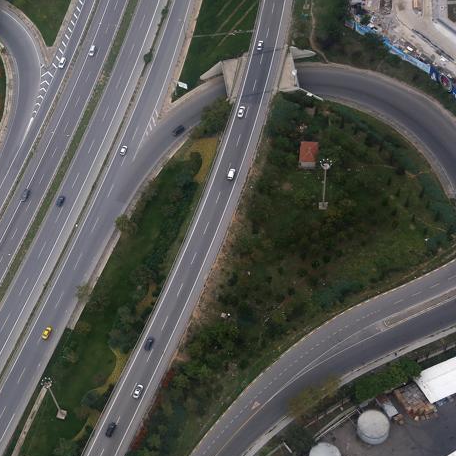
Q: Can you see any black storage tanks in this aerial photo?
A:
No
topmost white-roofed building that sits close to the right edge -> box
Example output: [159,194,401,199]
[414,358,456,409]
